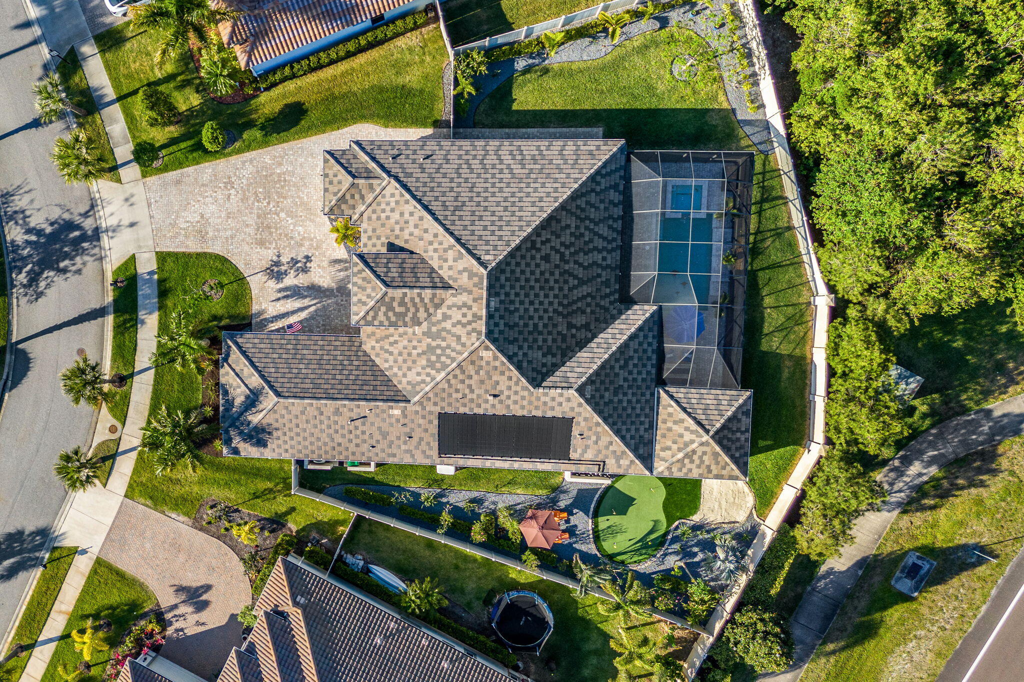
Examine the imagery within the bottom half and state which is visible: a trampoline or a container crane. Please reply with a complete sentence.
The feature located within the bottom half is a trampoline.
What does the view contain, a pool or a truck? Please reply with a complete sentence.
This aerial view contains a pool.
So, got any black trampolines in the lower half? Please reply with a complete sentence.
Yes, you'll find a black trampoline in the lower half.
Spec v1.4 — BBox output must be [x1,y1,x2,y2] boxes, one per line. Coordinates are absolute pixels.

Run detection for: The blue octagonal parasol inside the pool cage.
[664,303,705,344]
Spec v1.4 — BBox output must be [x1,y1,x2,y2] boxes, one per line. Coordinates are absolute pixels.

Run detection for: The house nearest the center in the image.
[218,138,754,481]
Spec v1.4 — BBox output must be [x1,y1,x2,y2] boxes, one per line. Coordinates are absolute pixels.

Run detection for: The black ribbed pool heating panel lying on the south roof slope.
[439,412,605,474]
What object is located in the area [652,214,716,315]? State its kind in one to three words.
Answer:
swimming pool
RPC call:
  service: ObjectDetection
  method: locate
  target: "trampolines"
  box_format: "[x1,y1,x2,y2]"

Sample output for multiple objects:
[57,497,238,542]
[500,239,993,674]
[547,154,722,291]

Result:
[493,585,554,656]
